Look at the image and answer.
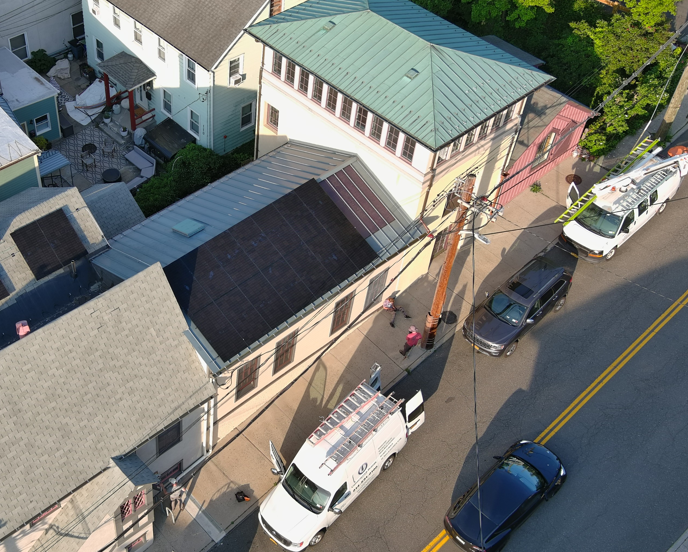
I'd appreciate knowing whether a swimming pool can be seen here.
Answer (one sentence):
No, the picture doesn't show any swimming pool.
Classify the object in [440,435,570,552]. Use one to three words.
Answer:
car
